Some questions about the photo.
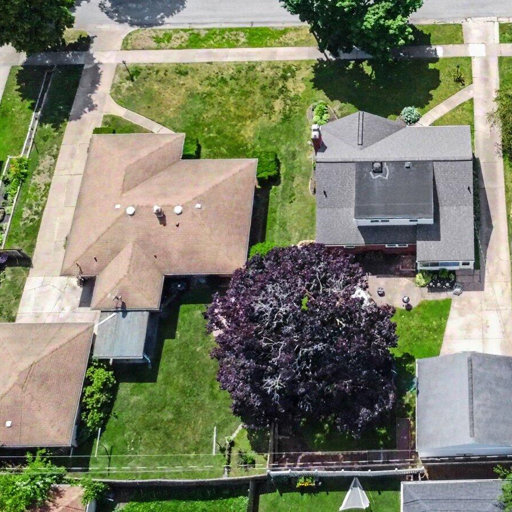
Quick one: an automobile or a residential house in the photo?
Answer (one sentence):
The one in the frame is a residential house.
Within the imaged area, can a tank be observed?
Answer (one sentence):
No, this view has no tank in it.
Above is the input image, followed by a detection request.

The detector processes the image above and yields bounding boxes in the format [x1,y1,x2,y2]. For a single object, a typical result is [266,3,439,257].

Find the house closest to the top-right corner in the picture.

[310,110,475,271]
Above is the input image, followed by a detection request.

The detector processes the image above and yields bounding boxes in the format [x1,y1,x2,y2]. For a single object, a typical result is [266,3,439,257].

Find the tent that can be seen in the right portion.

[338,475,370,512]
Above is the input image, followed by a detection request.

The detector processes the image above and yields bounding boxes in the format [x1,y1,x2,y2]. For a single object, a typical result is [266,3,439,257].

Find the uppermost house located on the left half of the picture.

[58,132,259,313]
